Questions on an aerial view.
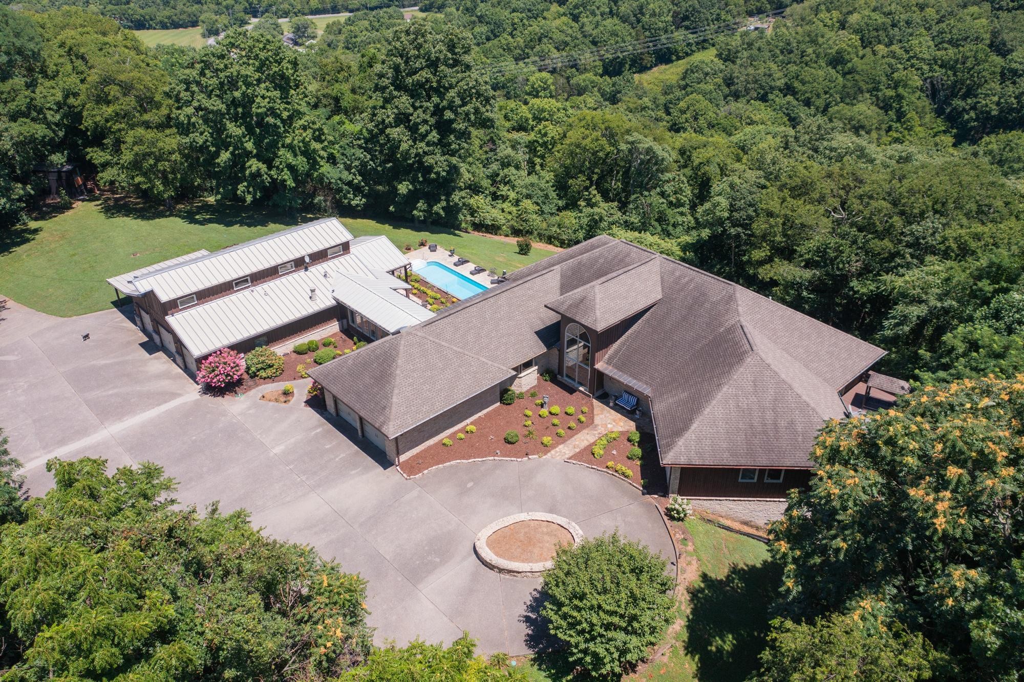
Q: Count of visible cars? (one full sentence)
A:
I count no cars.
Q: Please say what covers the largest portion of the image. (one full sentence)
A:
What you mostly see from above here is trees.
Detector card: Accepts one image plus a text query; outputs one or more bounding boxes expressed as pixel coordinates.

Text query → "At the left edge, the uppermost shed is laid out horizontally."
[14,161,91,203]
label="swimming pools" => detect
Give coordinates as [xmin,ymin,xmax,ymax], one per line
[408,251,492,299]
